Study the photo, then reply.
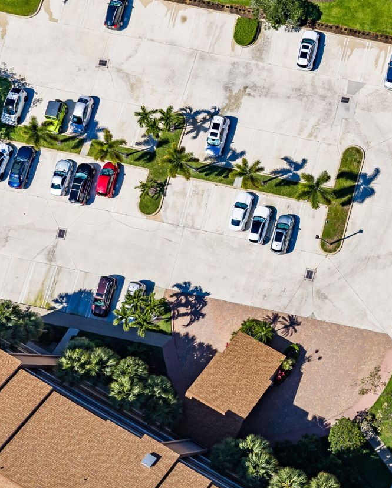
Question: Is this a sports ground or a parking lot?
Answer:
parking lot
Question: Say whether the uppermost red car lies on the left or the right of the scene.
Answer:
left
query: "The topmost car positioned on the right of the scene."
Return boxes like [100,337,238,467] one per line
[296,30,319,71]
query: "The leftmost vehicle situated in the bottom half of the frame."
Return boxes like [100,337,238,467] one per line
[91,276,118,317]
